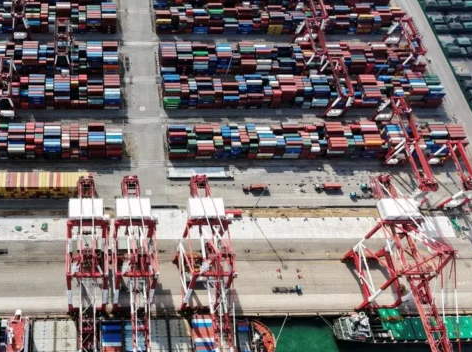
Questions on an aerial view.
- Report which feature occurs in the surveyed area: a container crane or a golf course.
container crane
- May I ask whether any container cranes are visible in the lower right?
Yes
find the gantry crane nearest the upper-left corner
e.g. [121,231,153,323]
[11,0,34,41]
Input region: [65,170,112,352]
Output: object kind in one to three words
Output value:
container crane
